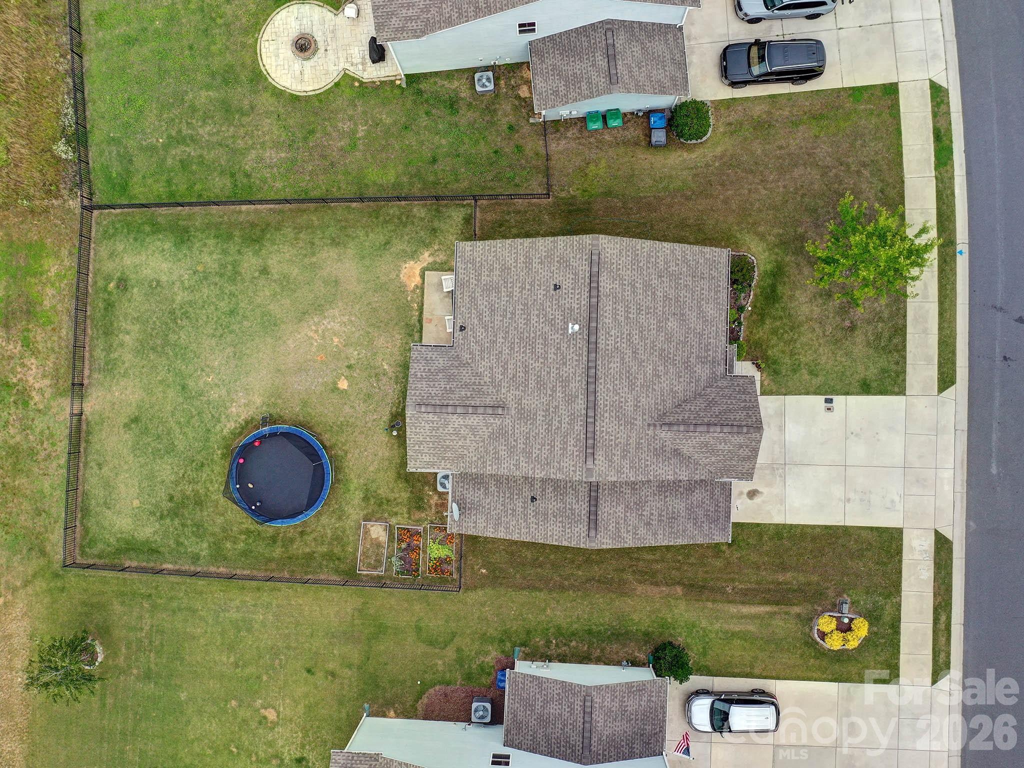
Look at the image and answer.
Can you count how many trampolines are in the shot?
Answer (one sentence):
The picture shows just 1 trampoline.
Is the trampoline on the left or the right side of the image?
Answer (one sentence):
The trampoline appears in the left half of the scene.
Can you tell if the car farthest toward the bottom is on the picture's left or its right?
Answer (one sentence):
The car farthest toward the bottom is on the right side of the image.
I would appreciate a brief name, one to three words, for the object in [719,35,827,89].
car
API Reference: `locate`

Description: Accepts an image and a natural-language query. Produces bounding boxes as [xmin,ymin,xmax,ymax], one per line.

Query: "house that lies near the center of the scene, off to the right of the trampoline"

[406,235,763,549]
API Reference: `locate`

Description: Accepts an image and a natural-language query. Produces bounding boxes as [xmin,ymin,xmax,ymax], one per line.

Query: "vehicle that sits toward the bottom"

[685,689,781,739]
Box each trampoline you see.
[221,423,336,527]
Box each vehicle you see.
[719,35,827,89]
[685,689,781,739]
[734,0,841,24]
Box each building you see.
[406,235,763,549]
[370,0,698,127]
[328,654,675,768]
